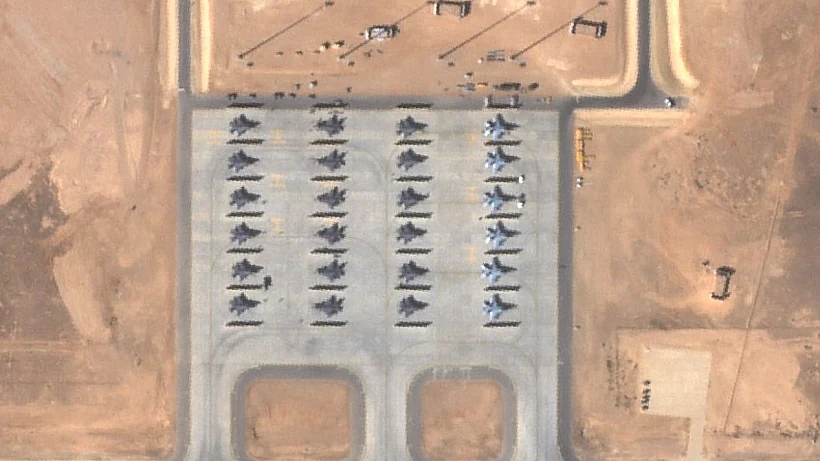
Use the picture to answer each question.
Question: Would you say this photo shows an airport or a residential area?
airport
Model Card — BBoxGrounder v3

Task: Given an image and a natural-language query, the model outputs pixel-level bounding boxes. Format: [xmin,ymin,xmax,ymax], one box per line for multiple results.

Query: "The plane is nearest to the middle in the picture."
[397,225,423,243]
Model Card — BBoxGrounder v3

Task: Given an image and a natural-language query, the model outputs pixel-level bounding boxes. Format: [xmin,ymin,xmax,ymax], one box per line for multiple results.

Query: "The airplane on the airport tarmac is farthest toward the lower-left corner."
[229,298,255,315]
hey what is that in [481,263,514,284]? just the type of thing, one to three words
airplane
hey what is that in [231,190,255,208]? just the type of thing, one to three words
airplane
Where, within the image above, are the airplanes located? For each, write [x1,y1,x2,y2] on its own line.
[229,298,255,315]
[397,153,423,170]
[481,263,514,284]
[317,226,343,244]
[232,262,257,280]
[399,299,424,316]
[316,118,341,135]
[484,190,517,211]
[316,299,341,316]
[484,117,517,139]
[483,298,516,319]
[317,190,343,208]
[231,190,255,208]
[229,154,255,172]
[230,118,255,135]
[317,153,342,171]
[396,118,422,136]
[485,150,518,171]
[397,225,423,243]
[398,190,423,209]
[486,225,518,247]
[231,226,257,245]
[317,263,343,280]
[399,263,424,281]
